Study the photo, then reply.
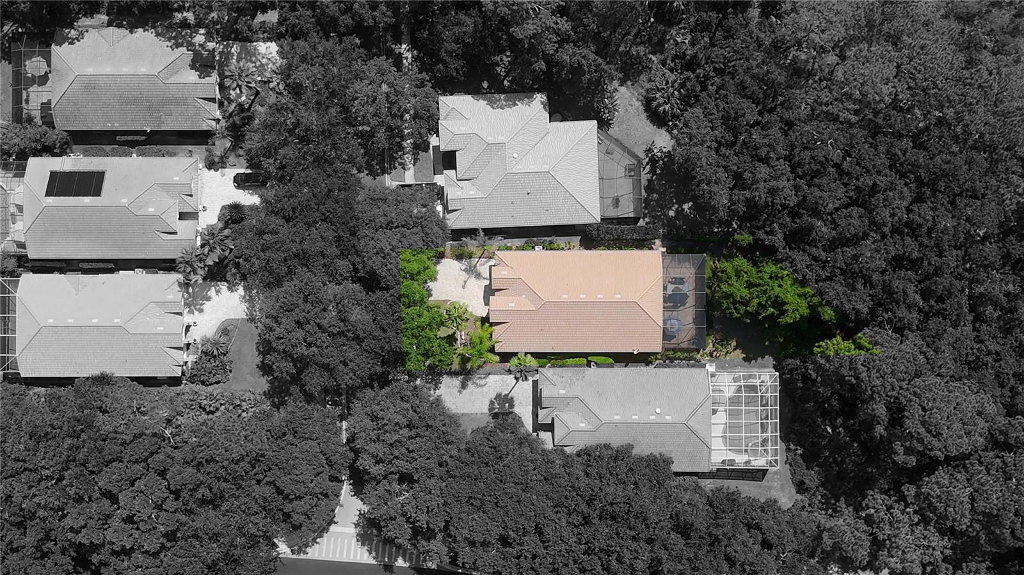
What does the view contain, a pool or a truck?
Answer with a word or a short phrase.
pool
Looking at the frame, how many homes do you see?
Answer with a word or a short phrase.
six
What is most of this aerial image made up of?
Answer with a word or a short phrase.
trees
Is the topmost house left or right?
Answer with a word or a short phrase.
left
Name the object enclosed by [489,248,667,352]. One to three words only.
house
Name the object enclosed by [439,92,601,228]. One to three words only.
house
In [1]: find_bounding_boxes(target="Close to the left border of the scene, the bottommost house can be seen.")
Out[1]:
[11,273,194,377]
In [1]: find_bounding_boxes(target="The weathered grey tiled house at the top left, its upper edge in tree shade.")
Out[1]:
[47,25,227,131]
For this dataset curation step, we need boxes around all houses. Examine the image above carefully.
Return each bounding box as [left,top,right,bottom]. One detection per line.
[47,25,227,131]
[20,157,205,260]
[11,273,194,377]
[439,92,601,228]
[489,248,667,352]
[538,362,716,473]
